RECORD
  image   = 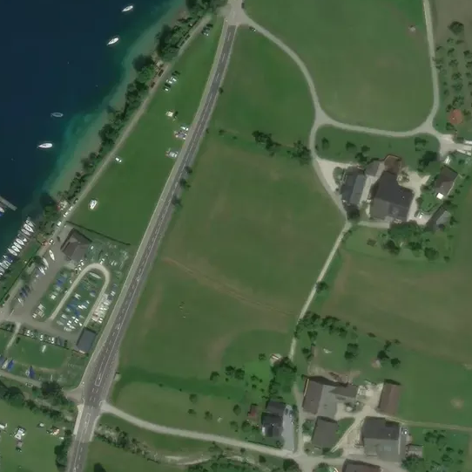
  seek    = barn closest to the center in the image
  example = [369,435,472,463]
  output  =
[341,172,366,204]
